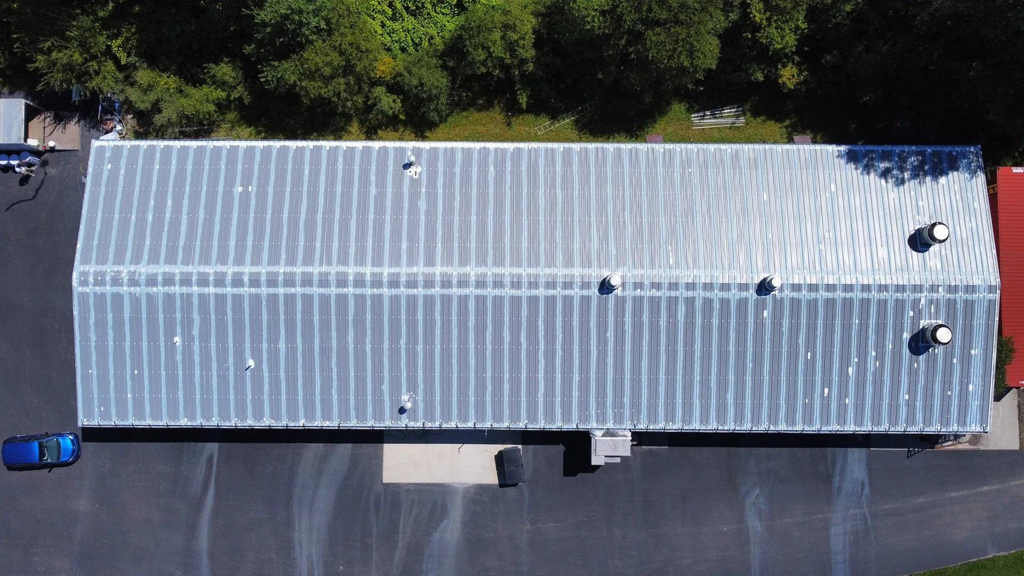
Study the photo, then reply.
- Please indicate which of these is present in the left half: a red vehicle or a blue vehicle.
blue vehicle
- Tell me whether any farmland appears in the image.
No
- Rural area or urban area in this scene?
urban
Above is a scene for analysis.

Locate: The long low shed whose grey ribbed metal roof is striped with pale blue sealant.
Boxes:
[71,140,1001,431]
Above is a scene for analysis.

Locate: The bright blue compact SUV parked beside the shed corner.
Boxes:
[2,430,82,470]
